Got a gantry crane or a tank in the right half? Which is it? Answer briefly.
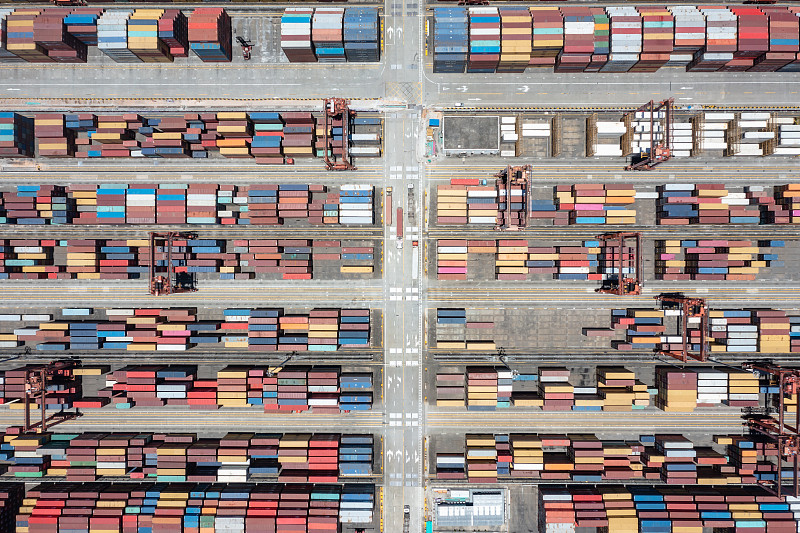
gantry crane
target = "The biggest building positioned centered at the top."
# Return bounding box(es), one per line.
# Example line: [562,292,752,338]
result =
[420,116,511,155]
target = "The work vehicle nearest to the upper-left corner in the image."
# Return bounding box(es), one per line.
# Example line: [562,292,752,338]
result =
[236,34,251,61]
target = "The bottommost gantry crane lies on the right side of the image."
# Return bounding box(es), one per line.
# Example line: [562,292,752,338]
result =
[738,421,800,503]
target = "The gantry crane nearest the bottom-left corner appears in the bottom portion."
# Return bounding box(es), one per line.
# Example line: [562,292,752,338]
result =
[21,360,84,435]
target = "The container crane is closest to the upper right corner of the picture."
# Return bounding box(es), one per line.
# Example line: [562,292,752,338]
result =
[622,95,676,169]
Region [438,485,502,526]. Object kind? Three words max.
building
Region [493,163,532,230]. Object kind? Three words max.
container crane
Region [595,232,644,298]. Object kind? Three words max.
container crane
